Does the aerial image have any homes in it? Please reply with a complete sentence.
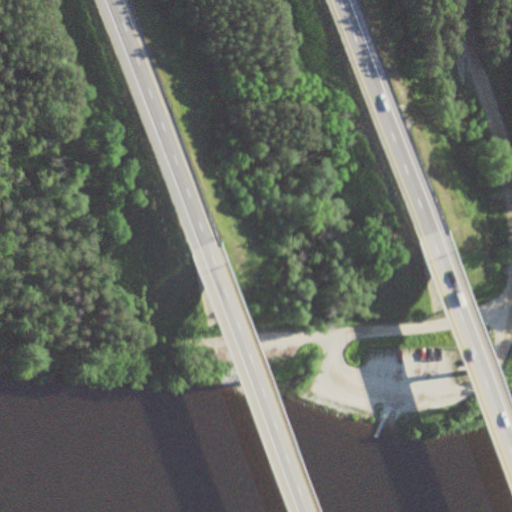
No, I can see no home in this picture.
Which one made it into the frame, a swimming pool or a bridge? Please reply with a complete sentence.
Looking from above, you can make out a bridge.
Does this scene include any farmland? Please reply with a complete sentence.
No, there's no farmland in this view.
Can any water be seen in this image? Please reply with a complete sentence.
Yes, there's water in this view.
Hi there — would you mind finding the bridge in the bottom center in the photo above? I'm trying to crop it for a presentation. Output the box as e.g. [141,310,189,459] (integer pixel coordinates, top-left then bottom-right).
[192,238,326,512]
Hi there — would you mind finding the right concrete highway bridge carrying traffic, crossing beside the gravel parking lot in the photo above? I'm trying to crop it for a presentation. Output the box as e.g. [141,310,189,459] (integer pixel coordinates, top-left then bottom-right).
[417,226,512,498]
